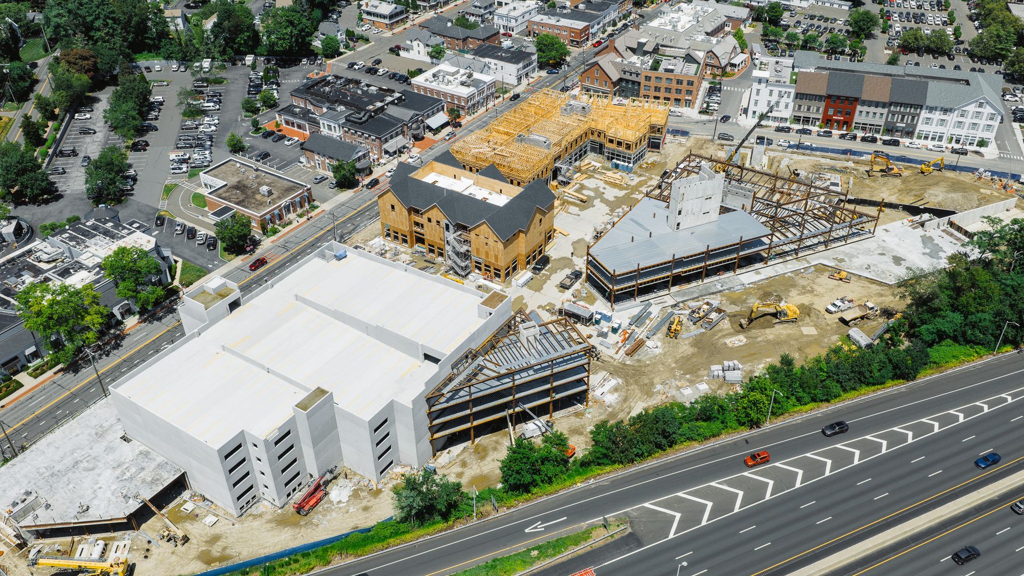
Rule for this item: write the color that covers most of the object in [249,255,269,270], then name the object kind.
red car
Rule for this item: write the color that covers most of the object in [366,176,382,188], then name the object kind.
black vehicle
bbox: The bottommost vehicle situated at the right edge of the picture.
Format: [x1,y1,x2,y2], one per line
[950,545,981,566]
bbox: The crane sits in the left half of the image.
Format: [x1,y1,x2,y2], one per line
[25,536,149,576]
